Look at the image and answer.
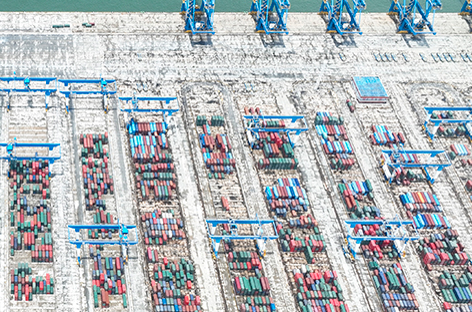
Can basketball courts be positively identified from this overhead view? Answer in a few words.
No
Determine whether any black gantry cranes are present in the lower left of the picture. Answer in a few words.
No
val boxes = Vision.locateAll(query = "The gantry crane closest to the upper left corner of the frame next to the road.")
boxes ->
[0,71,56,110]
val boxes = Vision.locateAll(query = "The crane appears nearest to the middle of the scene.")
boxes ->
[244,111,307,150]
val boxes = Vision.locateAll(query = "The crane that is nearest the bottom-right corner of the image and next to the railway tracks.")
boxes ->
[343,214,417,259]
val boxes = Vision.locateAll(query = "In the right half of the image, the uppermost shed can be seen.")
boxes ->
[352,76,389,102]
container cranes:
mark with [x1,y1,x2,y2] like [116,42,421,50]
[343,214,417,259]
[0,71,56,110]
[0,137,60,179]
[58,74,115,112]
[387,0,445,33]
[177,0,216,33]
[379,144,450,185]
[317,0,368,33]
[244,111,307,150]
[118,92,178,130]
[68,218,137,264]
[207,214,278,259]
[247,0,292,33]
[418,102,472,140]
